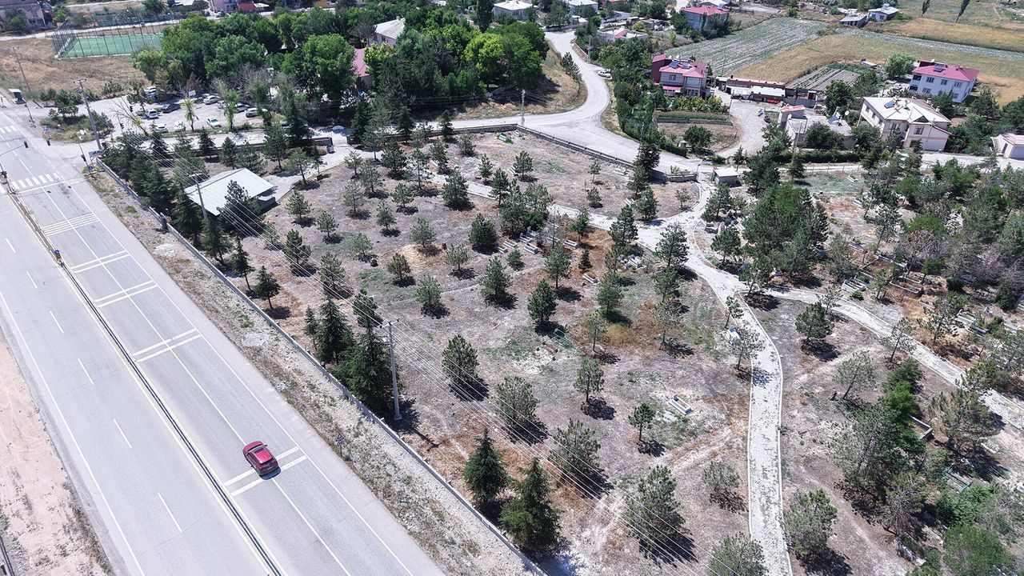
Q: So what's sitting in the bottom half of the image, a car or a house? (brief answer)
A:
car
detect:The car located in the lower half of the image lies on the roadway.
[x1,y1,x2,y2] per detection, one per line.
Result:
[242,443,280,483]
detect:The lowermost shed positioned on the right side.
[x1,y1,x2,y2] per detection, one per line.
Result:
[714,163,741,186]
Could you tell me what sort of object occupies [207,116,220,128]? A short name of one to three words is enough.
vehicle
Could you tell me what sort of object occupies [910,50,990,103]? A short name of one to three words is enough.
house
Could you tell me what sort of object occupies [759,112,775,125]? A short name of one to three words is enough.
vehicle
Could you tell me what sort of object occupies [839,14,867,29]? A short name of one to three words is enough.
shed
